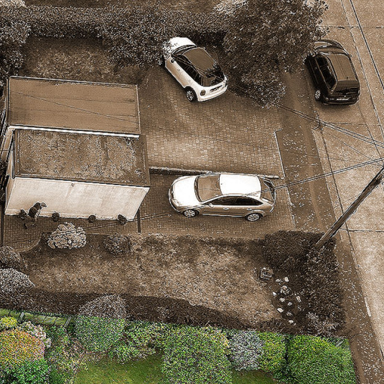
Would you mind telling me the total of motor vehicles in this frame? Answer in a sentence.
Looking from above, you can make out 3 motor vehicles.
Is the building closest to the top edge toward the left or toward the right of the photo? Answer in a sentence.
The building closest to the top edge is on the left side of the image.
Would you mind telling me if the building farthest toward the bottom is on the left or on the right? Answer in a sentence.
The building farthest toward the bottom sits on the left side.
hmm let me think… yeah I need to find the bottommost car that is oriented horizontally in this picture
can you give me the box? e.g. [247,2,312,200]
[168,170,280,227]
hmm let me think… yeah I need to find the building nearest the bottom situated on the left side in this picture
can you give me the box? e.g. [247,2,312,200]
[2,121,150,221]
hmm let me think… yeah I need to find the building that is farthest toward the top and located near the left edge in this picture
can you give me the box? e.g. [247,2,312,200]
[0,74,141,154]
